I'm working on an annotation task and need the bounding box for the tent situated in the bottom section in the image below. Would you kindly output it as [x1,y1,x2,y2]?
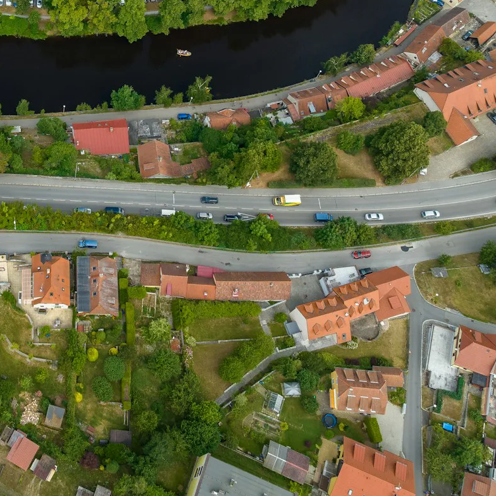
[278,380,301,400]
